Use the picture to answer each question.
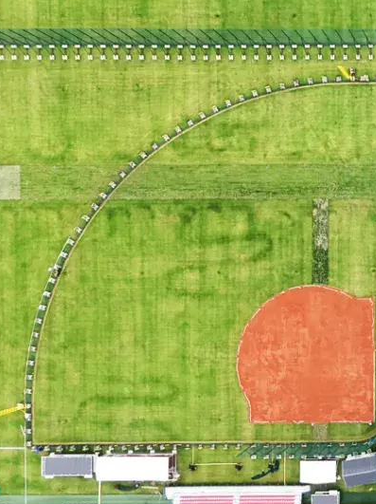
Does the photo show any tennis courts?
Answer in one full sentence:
No, no tennis court can be seen from above.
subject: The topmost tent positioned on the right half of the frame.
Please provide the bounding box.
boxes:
[300,458,340,484]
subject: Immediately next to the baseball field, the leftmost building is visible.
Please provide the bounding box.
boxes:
[42,454,99,479]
